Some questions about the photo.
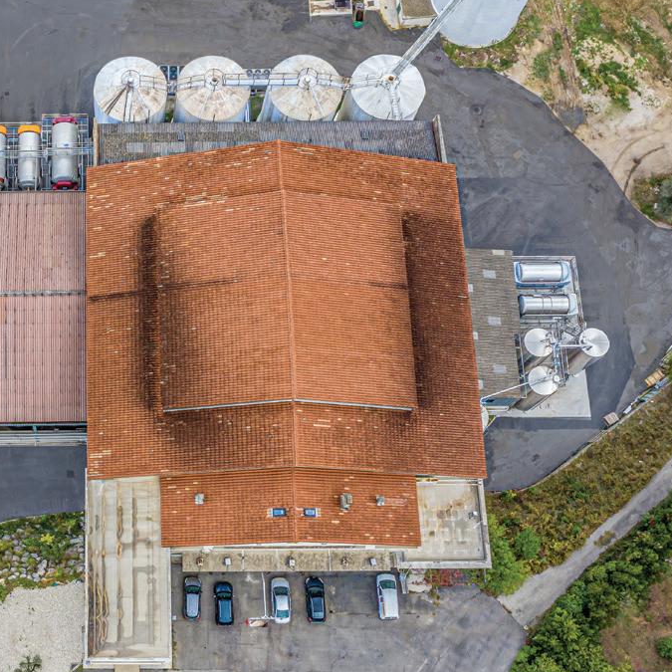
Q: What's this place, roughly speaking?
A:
industrial area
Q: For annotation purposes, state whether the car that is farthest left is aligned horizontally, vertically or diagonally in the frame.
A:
vertically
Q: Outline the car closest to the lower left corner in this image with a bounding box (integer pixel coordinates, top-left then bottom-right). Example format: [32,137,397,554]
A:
[181,577,202,621]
